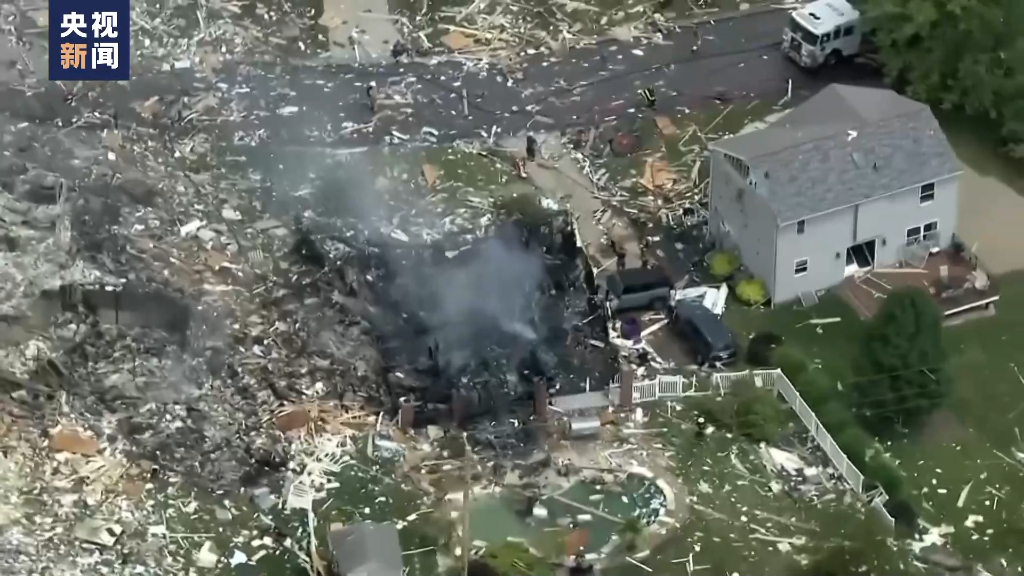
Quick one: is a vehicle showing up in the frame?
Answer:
Yes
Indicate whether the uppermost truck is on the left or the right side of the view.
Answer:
right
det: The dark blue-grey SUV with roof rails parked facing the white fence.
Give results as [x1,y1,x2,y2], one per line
[672,289,742,362]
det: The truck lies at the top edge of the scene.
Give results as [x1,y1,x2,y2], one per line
[788,0,869,68]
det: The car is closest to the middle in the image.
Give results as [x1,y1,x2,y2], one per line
[595,274,677,321]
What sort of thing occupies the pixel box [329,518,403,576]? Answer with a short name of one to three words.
shed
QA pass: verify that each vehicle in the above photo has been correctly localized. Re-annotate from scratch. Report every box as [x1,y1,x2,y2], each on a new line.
[672,289,742,362]
[788,0,869,68]
[595,274,677,321]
